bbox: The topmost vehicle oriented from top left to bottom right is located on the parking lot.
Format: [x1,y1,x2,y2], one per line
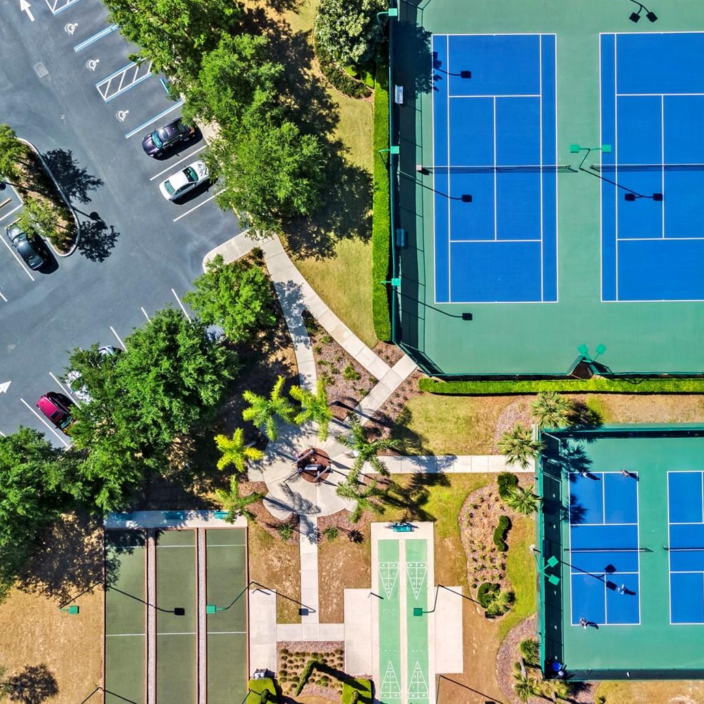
[2,221,47,273]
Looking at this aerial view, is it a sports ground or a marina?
sports ground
